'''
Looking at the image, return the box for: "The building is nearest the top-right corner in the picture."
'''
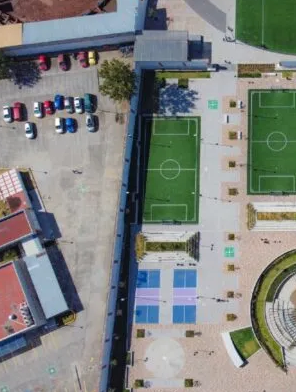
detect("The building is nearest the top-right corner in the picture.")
[134,31,190,63]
